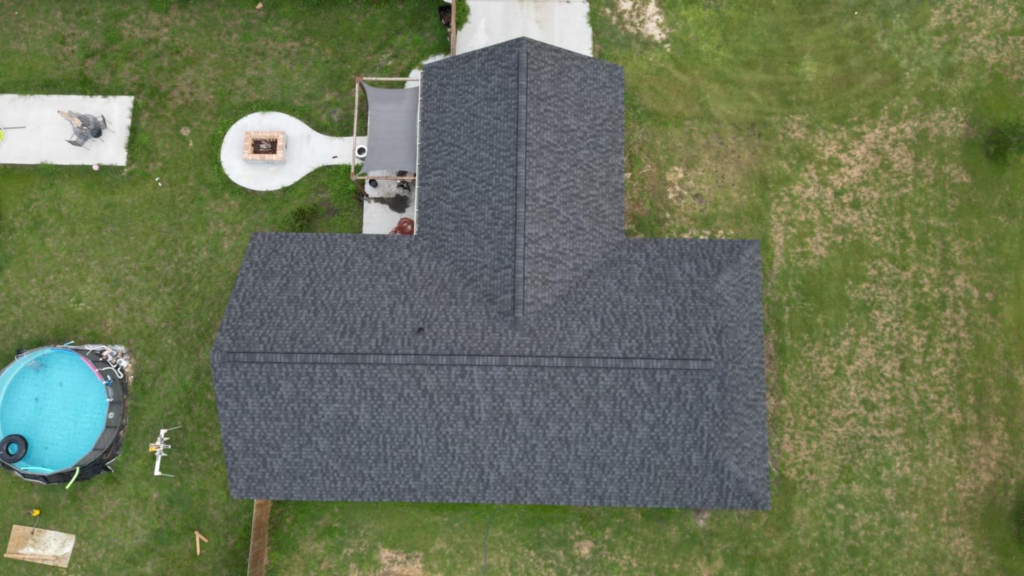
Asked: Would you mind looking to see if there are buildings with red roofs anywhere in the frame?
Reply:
No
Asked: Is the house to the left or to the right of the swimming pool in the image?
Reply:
on the right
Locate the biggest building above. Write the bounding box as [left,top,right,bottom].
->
[210,38,772,512]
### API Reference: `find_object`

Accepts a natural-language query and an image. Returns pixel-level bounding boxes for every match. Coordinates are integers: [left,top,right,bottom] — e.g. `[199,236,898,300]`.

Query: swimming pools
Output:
[0,347,126,476]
